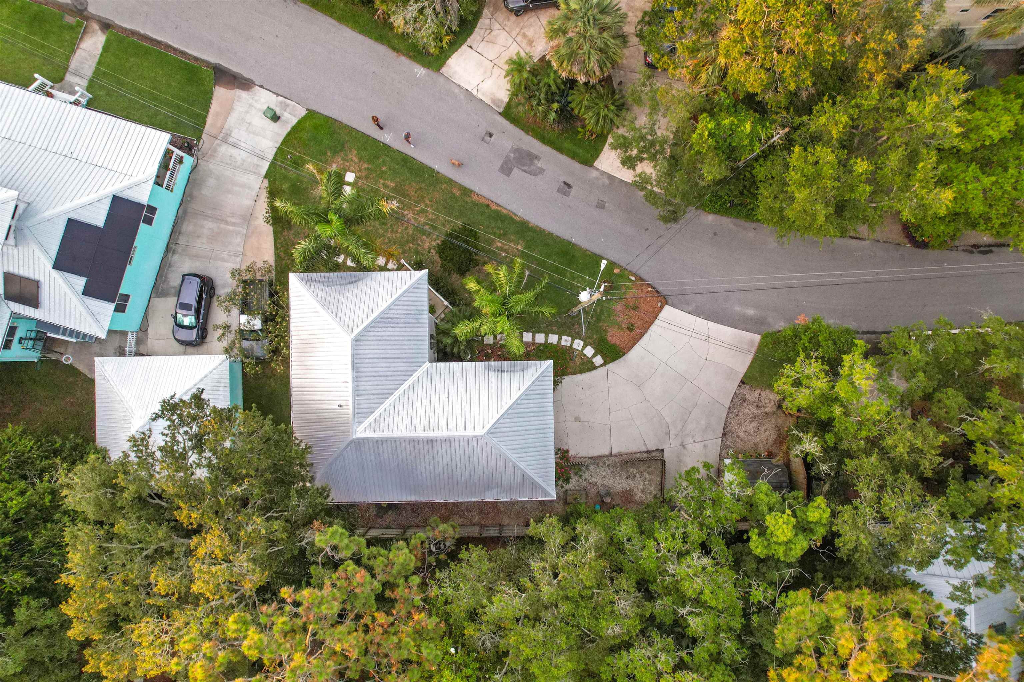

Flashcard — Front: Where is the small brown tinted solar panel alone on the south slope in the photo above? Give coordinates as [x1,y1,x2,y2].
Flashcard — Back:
[3,270,40,310]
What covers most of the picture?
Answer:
trees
